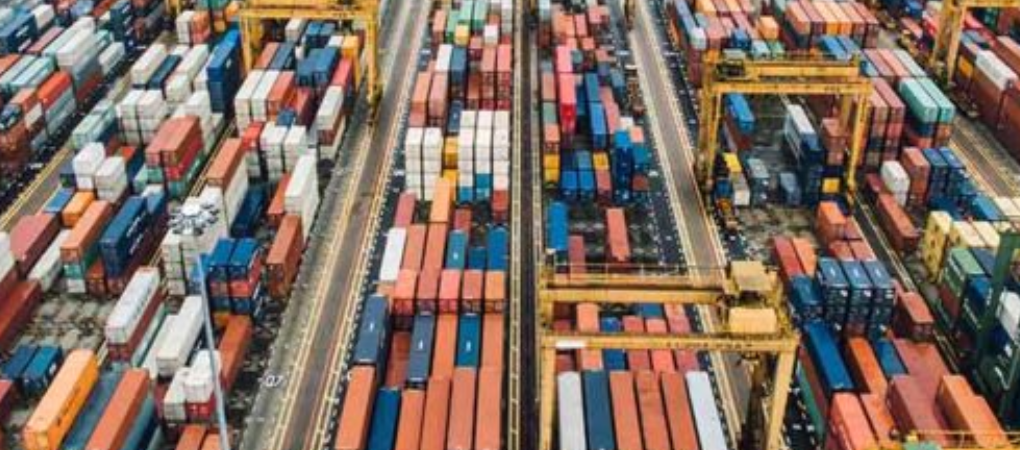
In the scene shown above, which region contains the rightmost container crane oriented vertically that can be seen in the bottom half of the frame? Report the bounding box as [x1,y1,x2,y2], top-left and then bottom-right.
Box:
[968,221,1020,420]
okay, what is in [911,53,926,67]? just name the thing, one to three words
vehicle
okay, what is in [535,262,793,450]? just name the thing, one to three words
container crane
